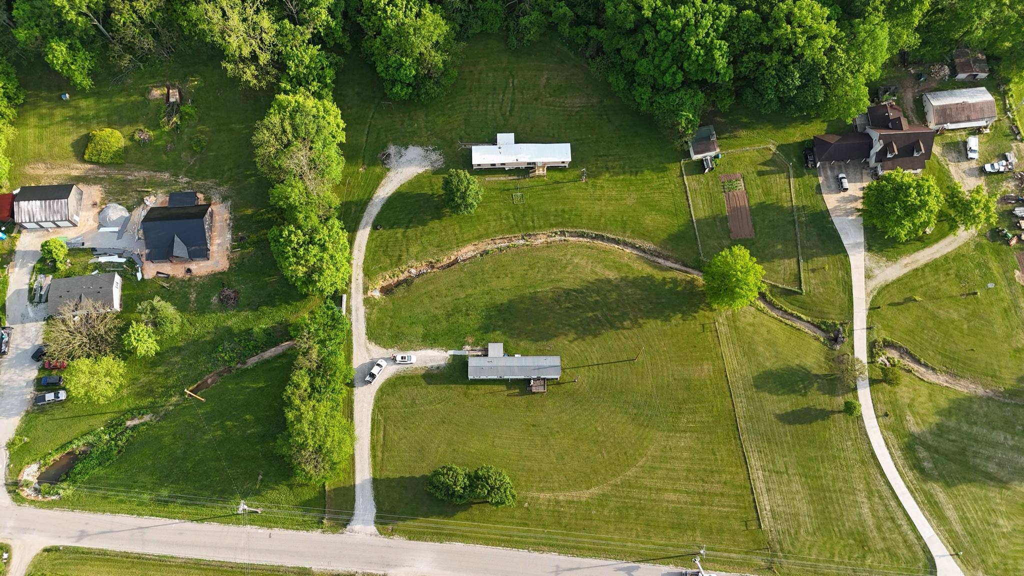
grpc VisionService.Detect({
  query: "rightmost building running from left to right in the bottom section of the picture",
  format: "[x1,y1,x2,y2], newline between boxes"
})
[468,343,561,380]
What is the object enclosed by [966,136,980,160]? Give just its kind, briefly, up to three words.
vehicle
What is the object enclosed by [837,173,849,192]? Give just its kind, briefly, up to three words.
vehicle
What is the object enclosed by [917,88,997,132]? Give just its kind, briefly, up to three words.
barn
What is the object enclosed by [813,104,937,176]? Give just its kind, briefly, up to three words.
house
